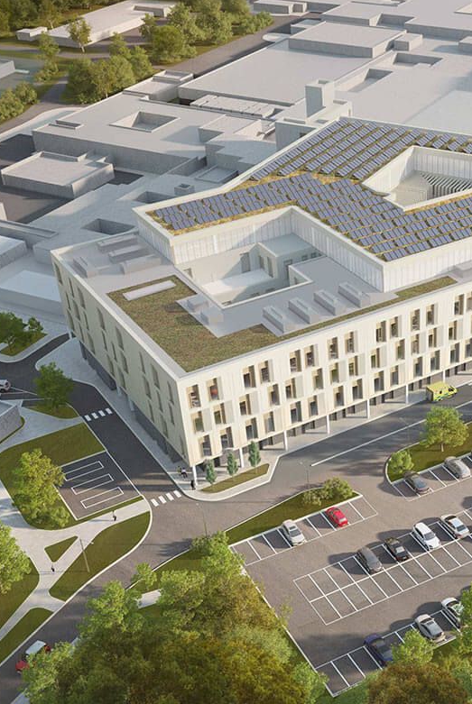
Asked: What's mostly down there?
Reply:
buildings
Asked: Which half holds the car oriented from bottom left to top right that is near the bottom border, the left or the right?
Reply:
left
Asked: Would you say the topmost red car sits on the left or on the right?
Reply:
right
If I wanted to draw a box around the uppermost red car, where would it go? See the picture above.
[326,506,347,529]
